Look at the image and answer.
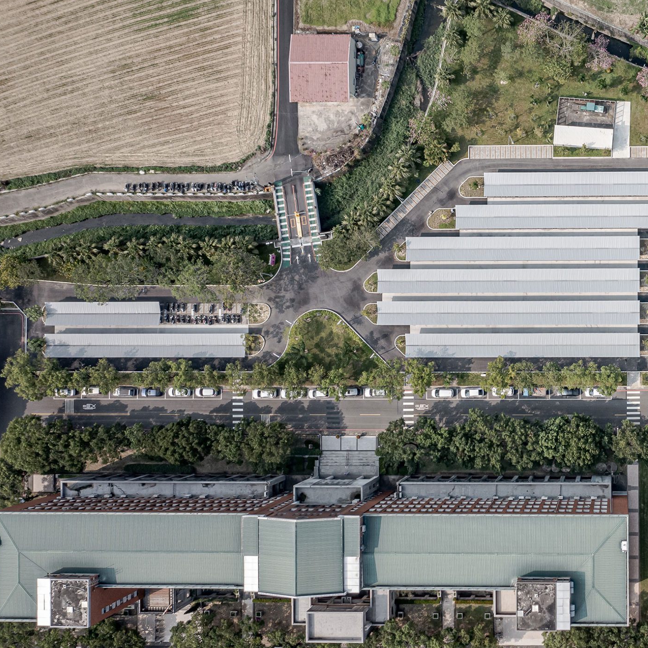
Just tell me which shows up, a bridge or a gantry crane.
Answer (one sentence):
This aerial view contains a bridge.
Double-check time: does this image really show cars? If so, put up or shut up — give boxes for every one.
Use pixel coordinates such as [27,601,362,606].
[196,387,217,397]
[81,387,101,396]
[309,389,330,398]
[59,388,75,397]
[338,387,360,397]
[281,389,302,398]
[461,388,484,396]
[168,388,190,396]
[432,388,453,398]
[494,388,514,396]
[113,387,136,397]
[556,388,579,396]
[142,388,161,396]
[253,389,276,398]
[366,389,387,398]
[584,389,606,397]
